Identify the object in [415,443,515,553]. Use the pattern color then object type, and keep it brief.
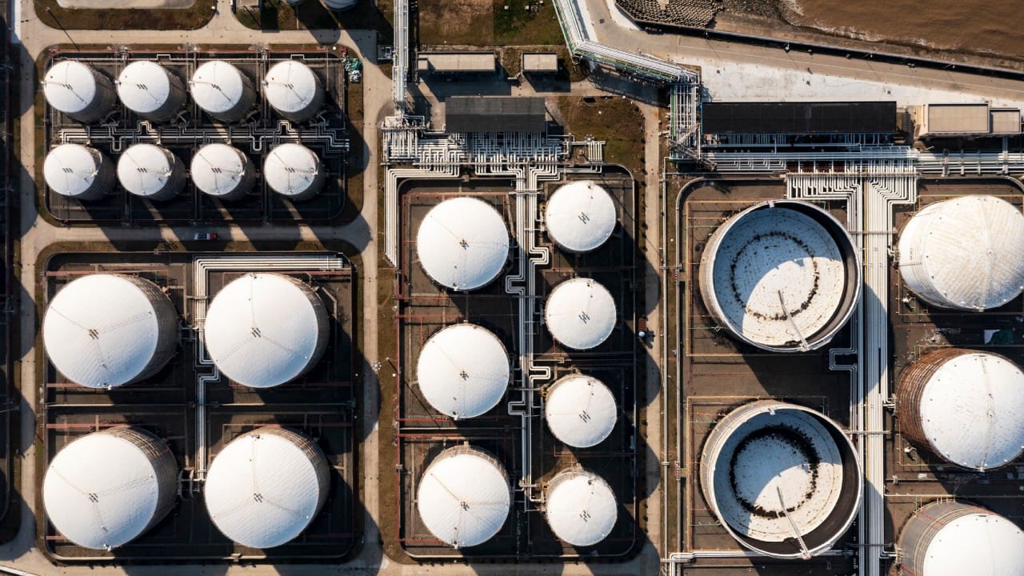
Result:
white storage tank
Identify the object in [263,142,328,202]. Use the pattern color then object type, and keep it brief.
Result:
white storage tank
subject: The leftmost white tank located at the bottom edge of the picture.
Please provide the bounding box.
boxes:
[43,426,178,553]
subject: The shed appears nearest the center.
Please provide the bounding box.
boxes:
[445,97,547,135]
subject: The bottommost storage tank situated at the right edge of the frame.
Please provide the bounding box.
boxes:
[898,499,1024,576]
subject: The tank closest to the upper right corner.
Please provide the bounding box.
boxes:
[895,195,1024,310]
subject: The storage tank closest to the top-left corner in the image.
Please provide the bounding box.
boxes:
[38,60,118,123]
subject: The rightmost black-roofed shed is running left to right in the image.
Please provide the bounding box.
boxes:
[697,101,896,137]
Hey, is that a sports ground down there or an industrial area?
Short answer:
industrial area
